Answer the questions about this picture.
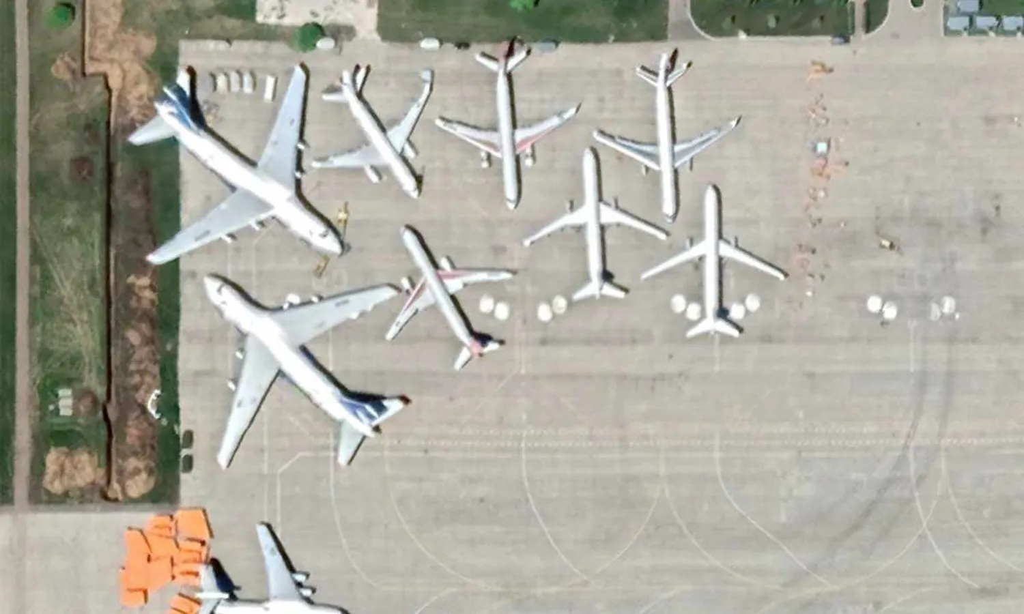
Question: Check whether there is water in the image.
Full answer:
No, there is no water in the image.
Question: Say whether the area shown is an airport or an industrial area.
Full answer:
It's an airport.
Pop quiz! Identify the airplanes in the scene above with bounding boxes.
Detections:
[195,525,347,614]
[434,45,579,209]
[303,68,437,198]
[386,227,515,371]
[203,279,411,470]
[641,184,786,336]
[123,70,343,259]
[593,58,738,223]
[522,147,668,298]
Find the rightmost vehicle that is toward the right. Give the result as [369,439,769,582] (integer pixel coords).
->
[874,235,901,253]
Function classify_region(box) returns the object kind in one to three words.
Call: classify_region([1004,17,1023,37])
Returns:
building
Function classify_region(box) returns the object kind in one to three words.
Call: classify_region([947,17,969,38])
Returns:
building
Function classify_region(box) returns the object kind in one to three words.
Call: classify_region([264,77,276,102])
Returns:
vehicle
